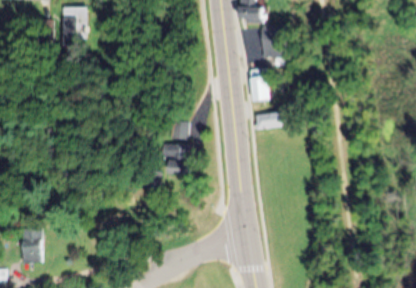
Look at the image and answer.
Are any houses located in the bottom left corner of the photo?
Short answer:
Yes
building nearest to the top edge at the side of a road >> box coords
[238,0,268,24]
